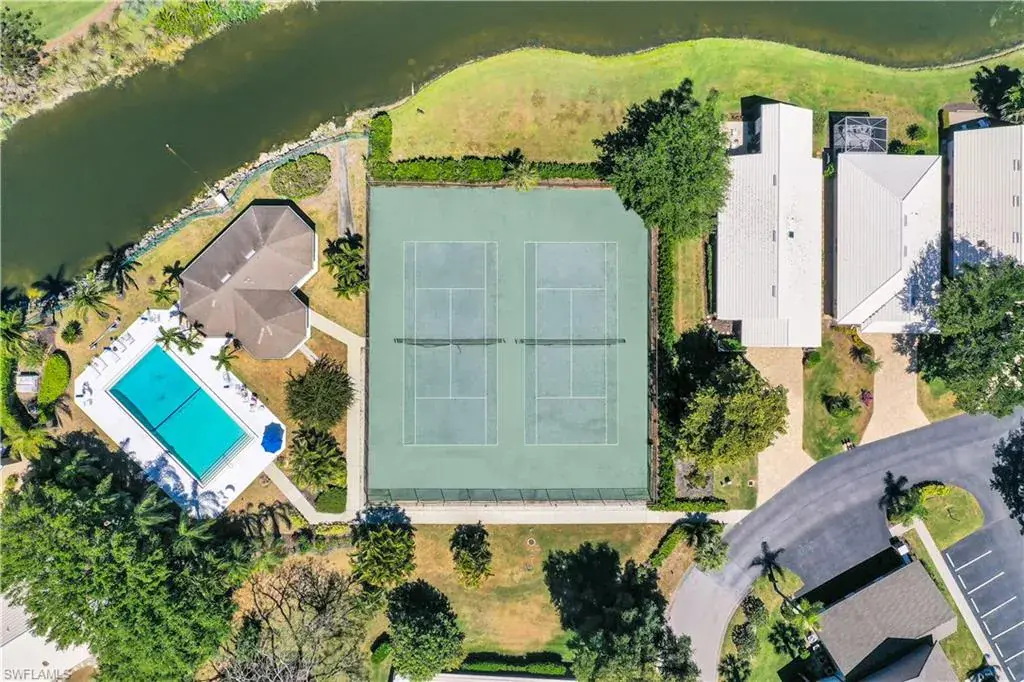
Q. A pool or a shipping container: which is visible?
pool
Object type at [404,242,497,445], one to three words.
tennis court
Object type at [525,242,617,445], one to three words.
tennis court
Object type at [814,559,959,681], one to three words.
house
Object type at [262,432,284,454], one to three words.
umbrella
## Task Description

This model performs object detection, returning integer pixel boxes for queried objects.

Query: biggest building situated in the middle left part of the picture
[179,205,316,360]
